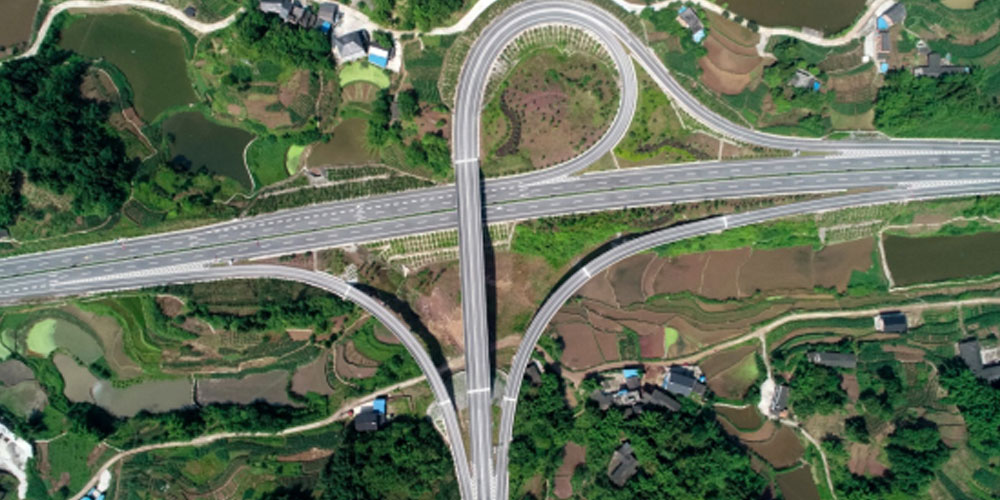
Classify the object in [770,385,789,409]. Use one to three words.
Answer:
house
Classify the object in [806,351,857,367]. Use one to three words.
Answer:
barn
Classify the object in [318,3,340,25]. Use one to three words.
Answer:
house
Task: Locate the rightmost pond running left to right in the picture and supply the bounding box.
[883,231,1000,287]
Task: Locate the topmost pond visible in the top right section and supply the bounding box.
[725,0,867,37]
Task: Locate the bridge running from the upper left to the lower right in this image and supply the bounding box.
[343,288,450,406]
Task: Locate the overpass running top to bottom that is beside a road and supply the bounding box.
[455,160,490,392]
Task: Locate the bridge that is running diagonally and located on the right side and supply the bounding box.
[505,217,730,401]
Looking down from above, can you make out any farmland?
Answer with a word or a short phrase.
Yes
